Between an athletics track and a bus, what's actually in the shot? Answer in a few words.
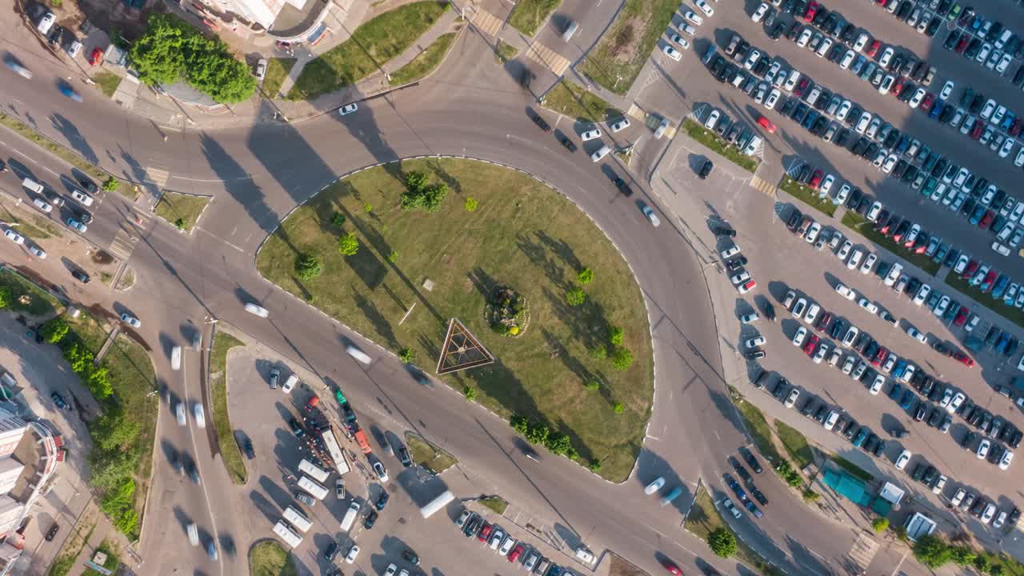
bus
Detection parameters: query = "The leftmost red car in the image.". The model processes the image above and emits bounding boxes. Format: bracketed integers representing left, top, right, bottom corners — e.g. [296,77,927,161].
[89,46,104,67]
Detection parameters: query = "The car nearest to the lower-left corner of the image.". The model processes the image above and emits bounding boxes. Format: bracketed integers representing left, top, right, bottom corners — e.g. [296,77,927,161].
[44,520,61,541]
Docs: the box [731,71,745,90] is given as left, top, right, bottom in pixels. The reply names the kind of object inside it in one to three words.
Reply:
car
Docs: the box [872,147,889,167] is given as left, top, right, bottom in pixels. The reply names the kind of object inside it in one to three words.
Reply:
car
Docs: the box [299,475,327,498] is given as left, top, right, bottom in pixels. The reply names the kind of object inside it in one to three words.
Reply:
vehicle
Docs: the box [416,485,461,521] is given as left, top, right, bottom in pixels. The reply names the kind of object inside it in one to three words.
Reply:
bus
